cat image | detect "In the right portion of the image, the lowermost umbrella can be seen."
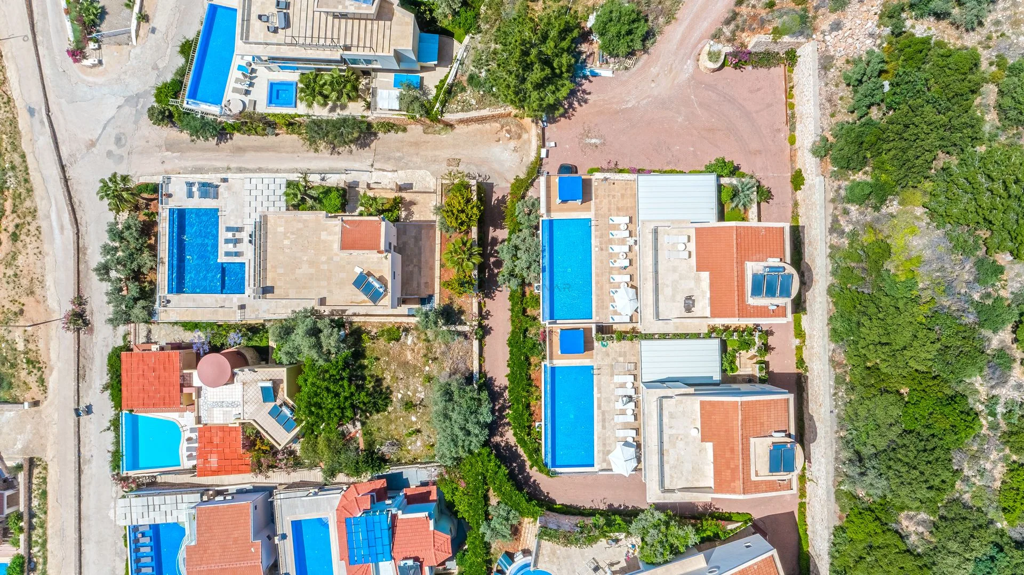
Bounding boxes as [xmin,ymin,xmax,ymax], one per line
[613,450,644,479]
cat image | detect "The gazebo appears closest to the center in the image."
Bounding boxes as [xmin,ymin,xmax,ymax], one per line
[558,327,587,356]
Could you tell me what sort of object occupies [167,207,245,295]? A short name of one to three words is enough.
swimming pool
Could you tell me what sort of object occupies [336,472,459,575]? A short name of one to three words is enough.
house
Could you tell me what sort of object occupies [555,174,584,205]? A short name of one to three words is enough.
gazebo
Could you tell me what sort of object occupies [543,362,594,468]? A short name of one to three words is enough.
swimming pool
